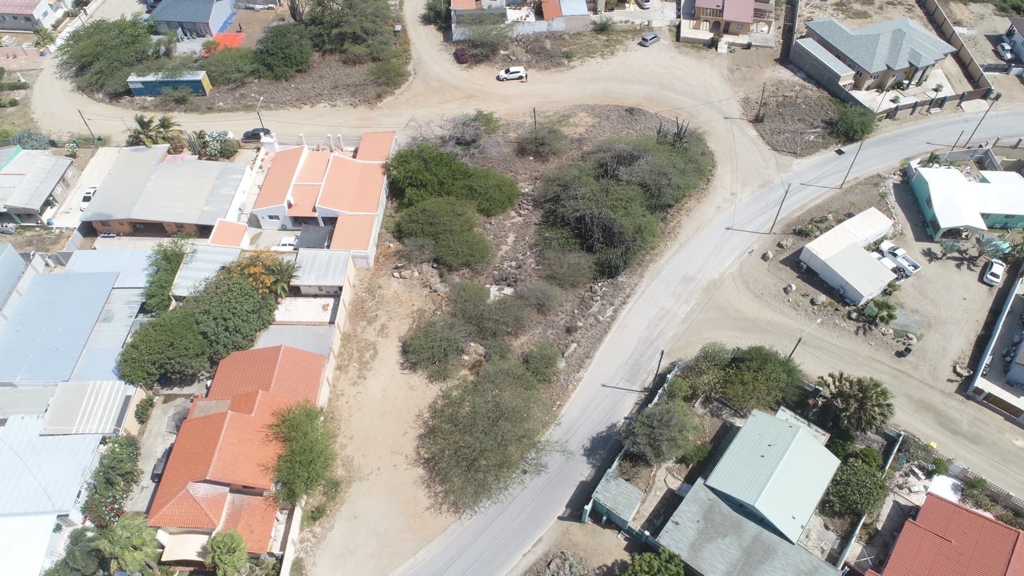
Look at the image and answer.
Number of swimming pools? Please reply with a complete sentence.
I count no swimming pools.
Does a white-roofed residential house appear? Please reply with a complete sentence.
Yes, looking at the shot, I can spot a white-roofed residential house.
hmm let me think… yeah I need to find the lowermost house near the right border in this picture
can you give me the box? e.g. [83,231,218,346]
[880,492,1024,576]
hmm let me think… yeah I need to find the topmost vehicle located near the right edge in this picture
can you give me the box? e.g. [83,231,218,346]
[996,43,1015,61]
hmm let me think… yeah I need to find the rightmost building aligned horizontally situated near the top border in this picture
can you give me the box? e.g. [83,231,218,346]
[806,17,956,91]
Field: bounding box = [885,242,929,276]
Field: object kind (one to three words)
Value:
truck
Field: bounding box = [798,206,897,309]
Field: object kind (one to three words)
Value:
building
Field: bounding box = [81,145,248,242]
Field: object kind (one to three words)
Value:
house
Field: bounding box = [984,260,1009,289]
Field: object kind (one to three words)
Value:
car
